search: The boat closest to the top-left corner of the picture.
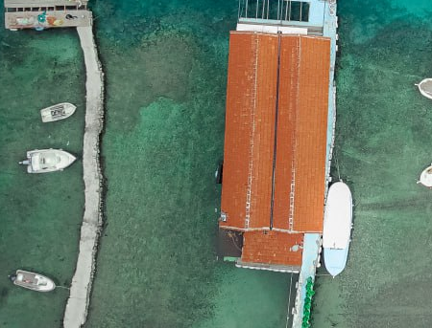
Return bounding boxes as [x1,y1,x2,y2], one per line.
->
[41,104,77,121]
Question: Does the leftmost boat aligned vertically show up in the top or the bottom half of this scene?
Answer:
bottom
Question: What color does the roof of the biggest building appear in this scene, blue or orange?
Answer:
orange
